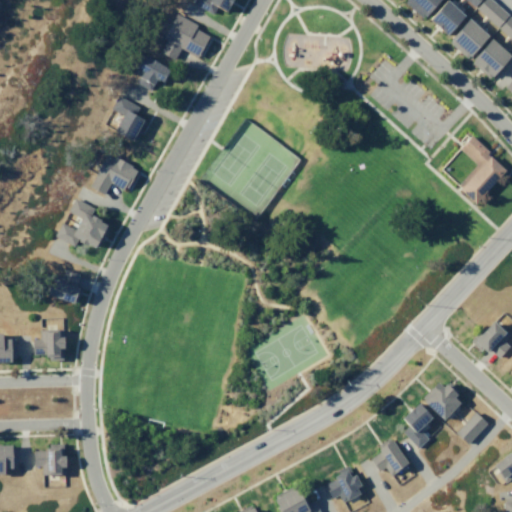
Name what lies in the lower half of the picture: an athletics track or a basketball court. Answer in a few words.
basketball court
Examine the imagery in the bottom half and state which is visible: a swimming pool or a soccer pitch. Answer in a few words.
soccer pitch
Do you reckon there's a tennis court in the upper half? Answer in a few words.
Yes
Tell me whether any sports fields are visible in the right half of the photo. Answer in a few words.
Yes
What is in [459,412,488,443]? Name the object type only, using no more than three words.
building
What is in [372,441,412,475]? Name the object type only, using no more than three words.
house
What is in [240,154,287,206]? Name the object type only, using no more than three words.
tennis court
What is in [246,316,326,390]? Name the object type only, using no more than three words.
basketball court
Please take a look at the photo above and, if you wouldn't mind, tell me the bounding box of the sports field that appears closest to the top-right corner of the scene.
[310,148,444,342]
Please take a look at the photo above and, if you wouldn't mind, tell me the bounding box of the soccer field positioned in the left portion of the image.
[105,258,244,431]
